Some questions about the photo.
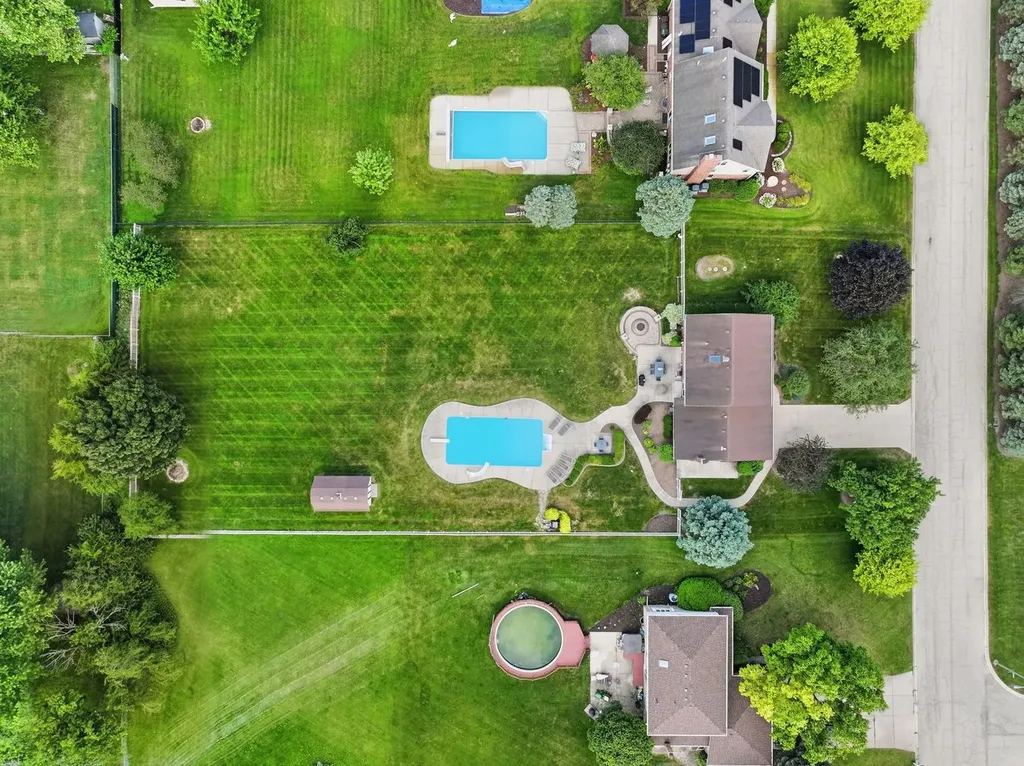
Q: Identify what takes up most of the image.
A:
grass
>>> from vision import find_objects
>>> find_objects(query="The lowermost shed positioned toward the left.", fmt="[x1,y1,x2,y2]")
[310,475,377,512]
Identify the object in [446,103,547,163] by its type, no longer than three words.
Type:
swimming pool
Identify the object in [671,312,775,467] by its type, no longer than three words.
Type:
house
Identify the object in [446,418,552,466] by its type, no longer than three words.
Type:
swimming pool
